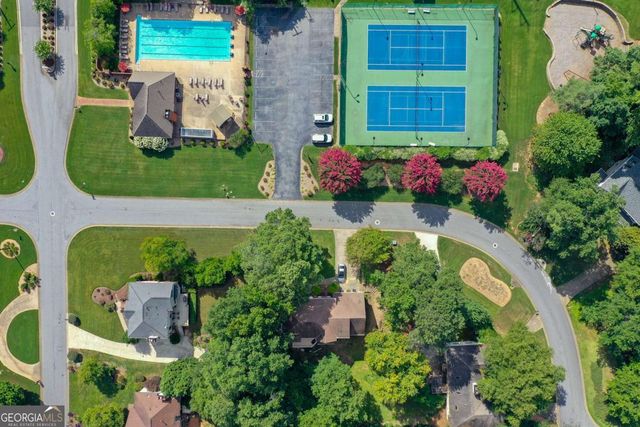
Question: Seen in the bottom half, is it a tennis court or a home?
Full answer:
It is a home that can be seen in the bottom half.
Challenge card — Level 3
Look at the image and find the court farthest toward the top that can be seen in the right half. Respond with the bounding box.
[368,24,467,71]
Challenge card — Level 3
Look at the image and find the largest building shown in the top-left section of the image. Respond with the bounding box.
[128,71,181,138]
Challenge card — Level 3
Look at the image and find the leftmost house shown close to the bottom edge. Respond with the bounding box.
[127,389,181,427]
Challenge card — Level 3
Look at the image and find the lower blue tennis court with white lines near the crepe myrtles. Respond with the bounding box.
[368,86,467,132]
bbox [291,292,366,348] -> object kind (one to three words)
house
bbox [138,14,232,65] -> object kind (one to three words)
swimming pool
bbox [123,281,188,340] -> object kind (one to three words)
house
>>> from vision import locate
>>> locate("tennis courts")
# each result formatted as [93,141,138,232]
[368,86,467,132]
[368,24,467,71]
